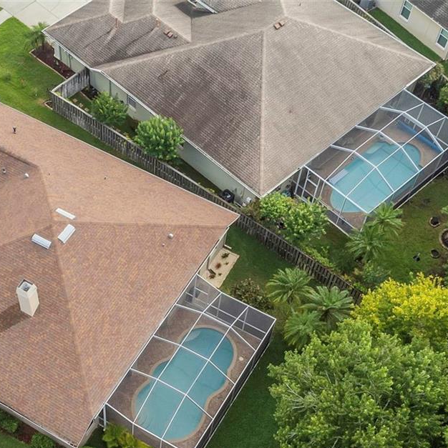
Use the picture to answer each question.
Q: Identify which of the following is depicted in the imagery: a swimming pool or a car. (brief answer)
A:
swimming pool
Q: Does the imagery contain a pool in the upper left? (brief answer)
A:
No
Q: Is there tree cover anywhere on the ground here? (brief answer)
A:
Yes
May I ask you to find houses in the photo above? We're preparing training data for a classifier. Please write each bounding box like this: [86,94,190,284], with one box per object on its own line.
[41,0,436,204]
[0,103,239,448]
[373,0,448,58]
